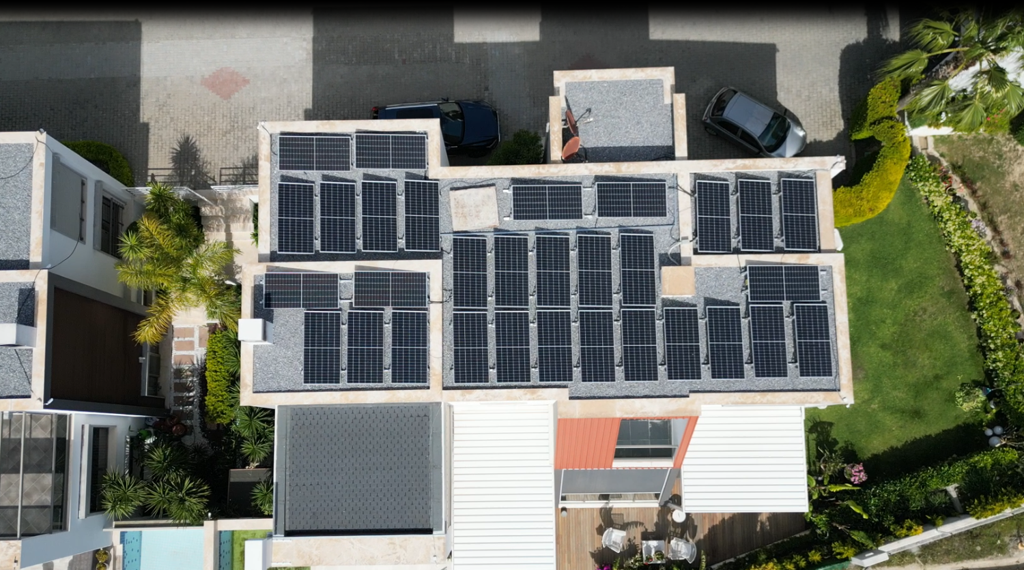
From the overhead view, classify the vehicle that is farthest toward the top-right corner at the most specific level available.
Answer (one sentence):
I'd say the vehicle that is farthest toward the top-right corner is an automobile.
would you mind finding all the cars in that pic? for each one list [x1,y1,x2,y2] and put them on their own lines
[703,82,805,158]
[371,97,498,158]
